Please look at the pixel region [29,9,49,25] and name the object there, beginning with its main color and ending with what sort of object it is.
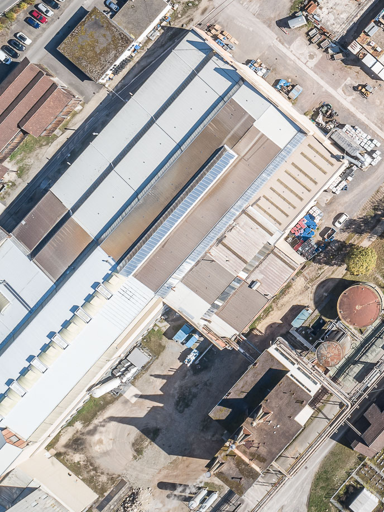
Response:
red car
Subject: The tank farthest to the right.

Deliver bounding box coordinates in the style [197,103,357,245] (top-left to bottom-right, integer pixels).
[337,281,384,328]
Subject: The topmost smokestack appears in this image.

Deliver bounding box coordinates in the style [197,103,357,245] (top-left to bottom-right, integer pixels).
[250,400,276,427]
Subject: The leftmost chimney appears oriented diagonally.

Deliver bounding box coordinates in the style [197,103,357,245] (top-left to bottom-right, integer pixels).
[204,440,239,478]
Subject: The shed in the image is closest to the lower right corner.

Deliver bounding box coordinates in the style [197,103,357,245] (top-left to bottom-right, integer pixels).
[349,483,381,512]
